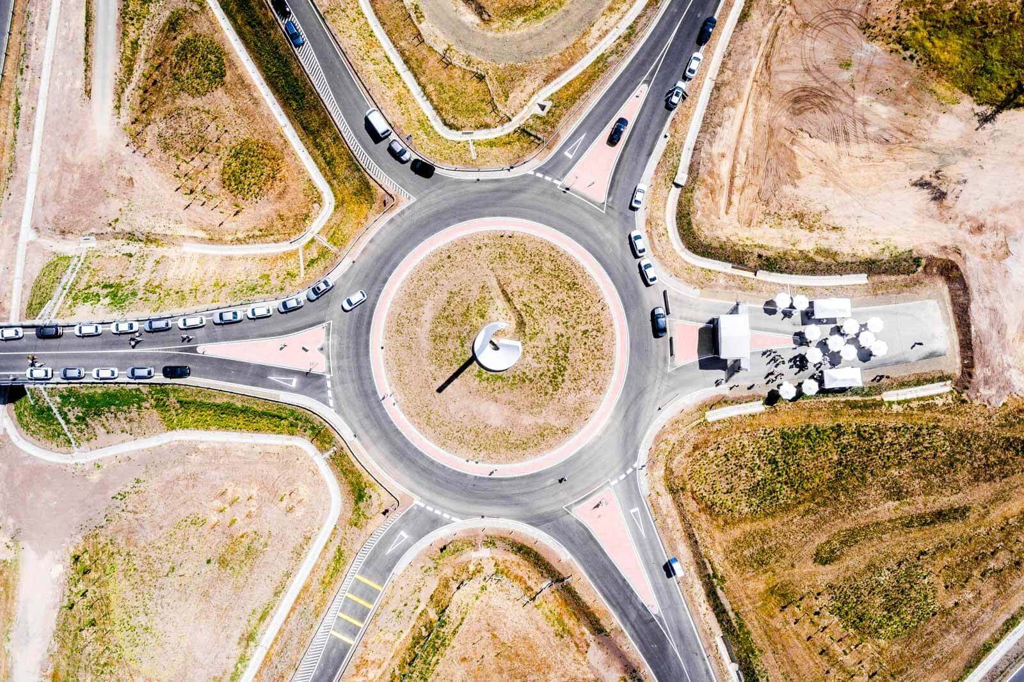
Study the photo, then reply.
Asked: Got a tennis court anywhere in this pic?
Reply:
No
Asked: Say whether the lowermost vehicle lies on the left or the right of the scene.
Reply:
right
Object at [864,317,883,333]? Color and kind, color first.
white umbrella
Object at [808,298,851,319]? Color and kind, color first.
white tent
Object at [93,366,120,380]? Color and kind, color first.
white car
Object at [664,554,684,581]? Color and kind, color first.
white vehicle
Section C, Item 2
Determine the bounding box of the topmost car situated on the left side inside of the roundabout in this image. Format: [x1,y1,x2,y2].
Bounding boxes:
[342,290,368,310]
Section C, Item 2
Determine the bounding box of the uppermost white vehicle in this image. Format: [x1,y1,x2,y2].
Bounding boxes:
[684,52,702,80]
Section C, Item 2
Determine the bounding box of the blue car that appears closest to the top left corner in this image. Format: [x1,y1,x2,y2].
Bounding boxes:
[283,18,304,47]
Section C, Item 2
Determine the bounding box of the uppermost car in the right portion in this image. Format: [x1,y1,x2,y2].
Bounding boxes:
[697,15,717,45]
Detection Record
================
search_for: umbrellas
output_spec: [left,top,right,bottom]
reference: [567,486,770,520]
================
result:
[791,294,809,310]
[839,345,857,361]
[840,319,858,335]
[804,347,822,363]
[779,382,796,398]
[868,339,888,356]
[774,292,791,308]
[857,331,875,347]
[864,317,883,333]
[801,379,818,395]
[803,324,821,341]
[826,336,843,351]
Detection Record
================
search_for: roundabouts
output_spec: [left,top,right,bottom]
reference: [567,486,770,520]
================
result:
[327,172,671,519]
